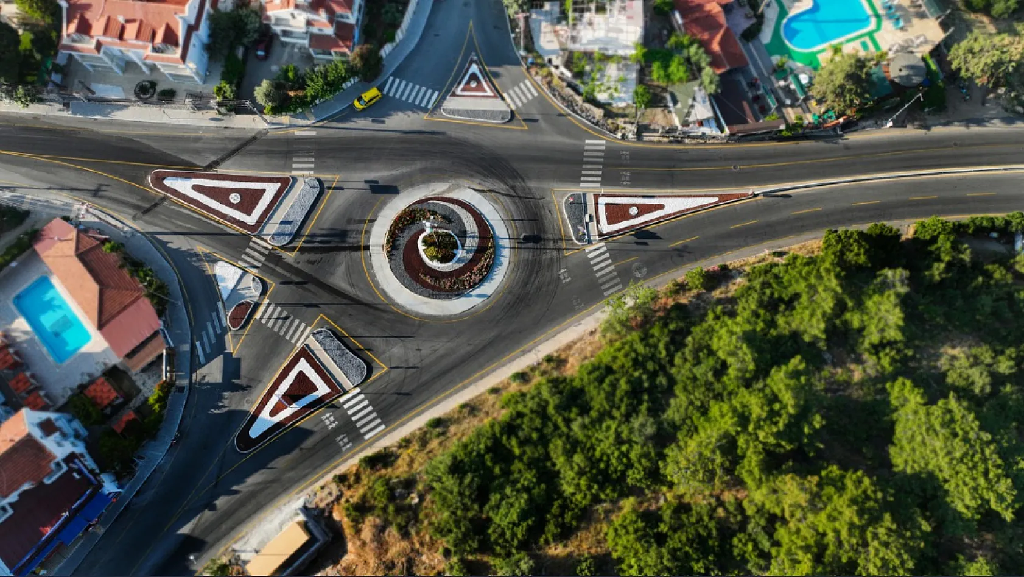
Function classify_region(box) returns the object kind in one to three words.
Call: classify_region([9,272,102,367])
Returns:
swimming pool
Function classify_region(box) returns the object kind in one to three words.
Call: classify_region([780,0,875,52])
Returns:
swimming pool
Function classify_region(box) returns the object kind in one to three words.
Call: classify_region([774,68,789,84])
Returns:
umbrella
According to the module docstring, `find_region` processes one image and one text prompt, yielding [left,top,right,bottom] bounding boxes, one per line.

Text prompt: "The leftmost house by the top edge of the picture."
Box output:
[58,0,225,89]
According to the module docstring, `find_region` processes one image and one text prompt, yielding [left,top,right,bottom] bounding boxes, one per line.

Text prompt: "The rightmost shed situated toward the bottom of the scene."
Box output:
[246,519,314,577]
